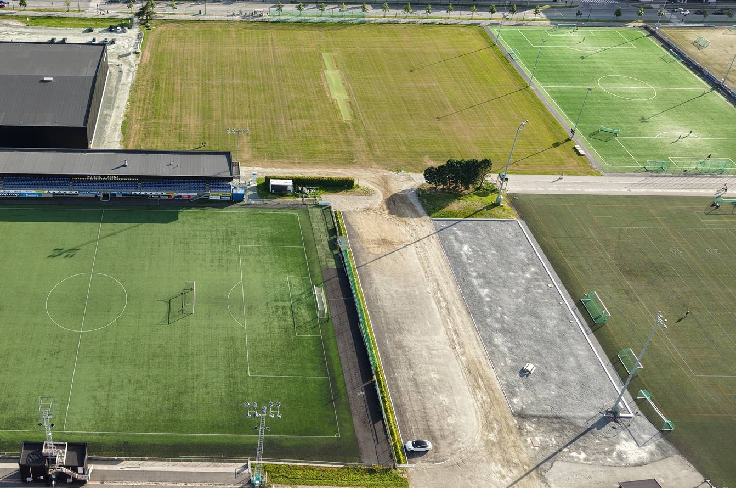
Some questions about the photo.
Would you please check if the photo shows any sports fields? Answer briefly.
Yes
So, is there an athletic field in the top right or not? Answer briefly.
Yes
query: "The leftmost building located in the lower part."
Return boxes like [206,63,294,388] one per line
[17,437,91,488]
